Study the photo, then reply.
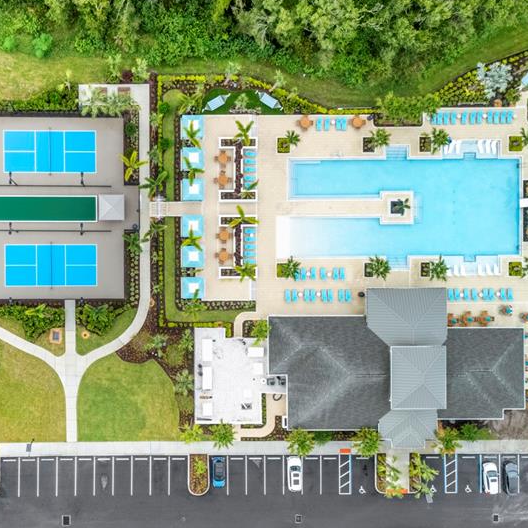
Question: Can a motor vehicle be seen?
Yes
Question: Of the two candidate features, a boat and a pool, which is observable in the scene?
pool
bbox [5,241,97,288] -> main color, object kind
blue sports court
